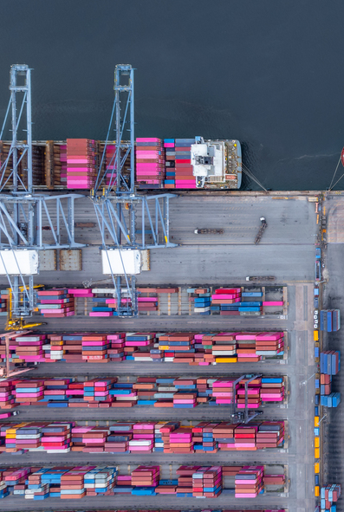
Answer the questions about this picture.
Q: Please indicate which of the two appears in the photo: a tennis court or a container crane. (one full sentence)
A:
Of the two, only a container crane appears.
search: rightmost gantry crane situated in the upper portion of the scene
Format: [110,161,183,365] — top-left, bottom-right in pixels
[83,63,192,319]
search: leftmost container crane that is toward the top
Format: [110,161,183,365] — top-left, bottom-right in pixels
[0,63,99,320]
